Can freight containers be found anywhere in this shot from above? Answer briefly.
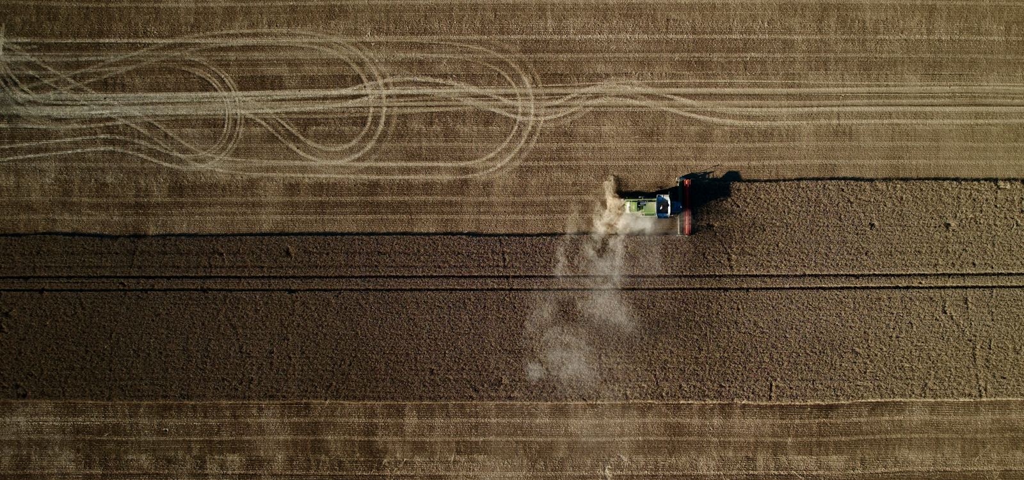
No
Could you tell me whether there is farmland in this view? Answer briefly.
Yes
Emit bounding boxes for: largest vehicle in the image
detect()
[619,174,691,236]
